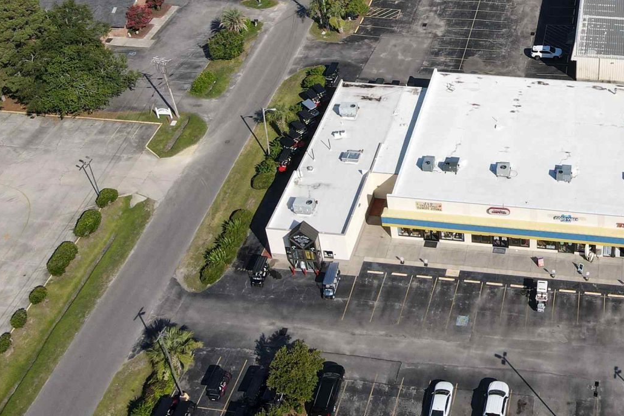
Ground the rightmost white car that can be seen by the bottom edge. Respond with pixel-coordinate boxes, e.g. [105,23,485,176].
[484,385,507,416]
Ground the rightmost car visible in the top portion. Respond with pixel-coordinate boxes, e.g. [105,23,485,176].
[531,44,562,60]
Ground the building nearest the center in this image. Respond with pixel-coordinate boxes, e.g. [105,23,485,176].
[263,76,424,271]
